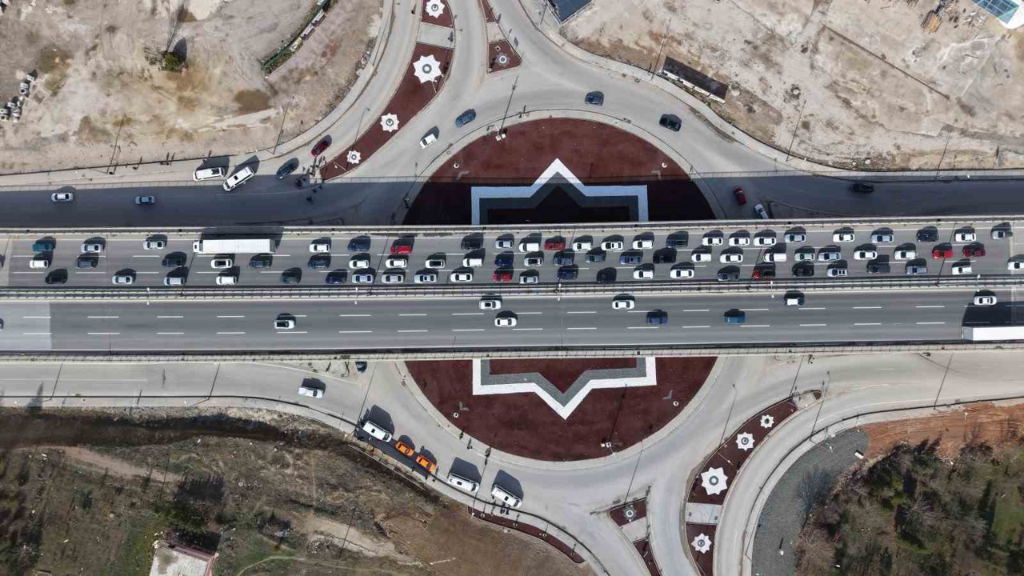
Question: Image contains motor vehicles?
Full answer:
Yes, a motor vehicle is visible in the scene.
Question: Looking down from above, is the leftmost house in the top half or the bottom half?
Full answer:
The leftmost house sits in the bottom half of the picture.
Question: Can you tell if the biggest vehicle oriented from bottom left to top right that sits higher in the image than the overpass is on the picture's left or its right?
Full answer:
It is on the left.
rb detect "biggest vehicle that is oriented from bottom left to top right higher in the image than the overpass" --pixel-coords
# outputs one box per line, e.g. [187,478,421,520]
[225,165,257,192]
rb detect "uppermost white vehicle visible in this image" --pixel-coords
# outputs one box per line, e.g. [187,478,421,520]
[420,131,438,146]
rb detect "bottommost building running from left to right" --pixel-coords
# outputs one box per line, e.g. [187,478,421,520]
[152,546,221,576]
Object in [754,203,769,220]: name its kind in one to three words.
car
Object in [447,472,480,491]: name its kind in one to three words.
vehicle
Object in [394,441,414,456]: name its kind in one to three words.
car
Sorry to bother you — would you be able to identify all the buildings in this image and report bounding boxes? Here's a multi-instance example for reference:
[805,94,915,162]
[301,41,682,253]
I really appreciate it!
[152,546,221,576]
[544,0,598,26]
[969,0,1024,31]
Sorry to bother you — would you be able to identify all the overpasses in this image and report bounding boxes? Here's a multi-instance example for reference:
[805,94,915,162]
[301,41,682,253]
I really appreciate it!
[0,215,1024,363]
